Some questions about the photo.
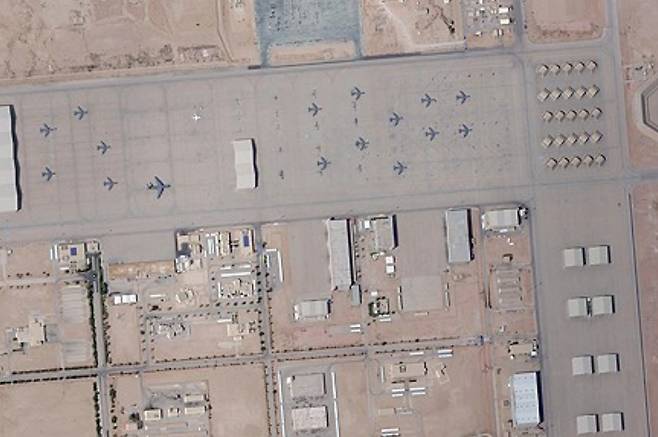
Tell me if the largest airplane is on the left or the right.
left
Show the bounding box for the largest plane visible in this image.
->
[147,176,171,198]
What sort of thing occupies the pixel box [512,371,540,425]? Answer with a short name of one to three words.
building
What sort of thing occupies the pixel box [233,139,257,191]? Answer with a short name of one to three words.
hangar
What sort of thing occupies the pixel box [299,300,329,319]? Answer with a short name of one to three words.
hangar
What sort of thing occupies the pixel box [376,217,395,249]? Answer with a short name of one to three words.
building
